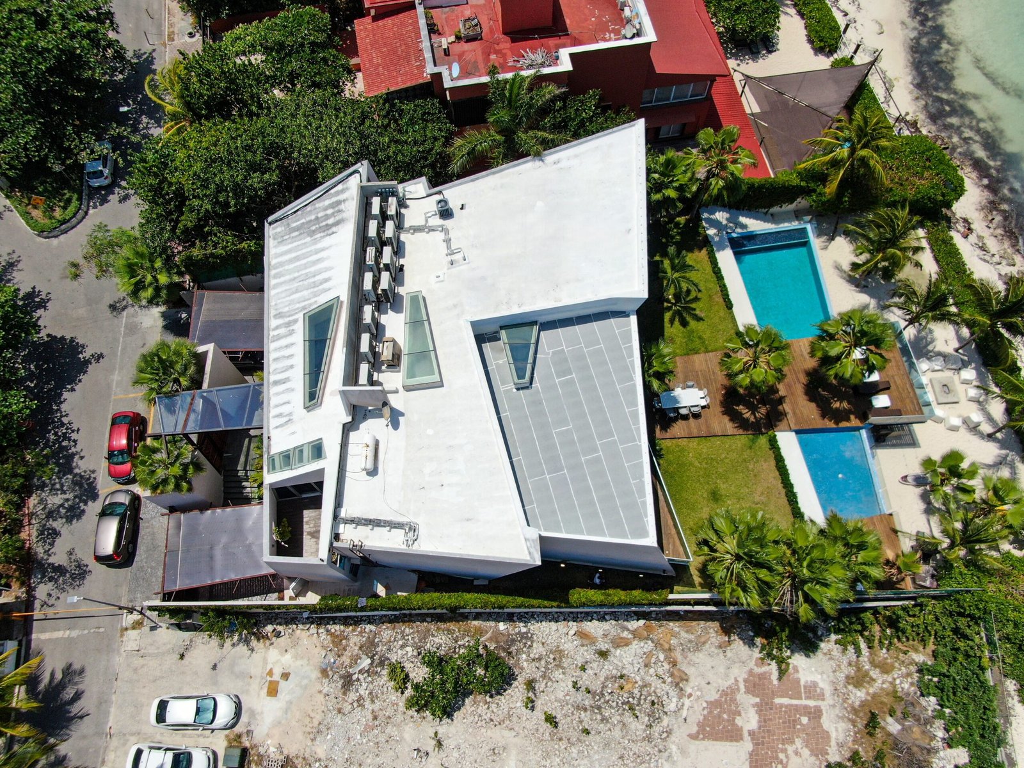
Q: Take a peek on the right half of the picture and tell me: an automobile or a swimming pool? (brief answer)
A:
swimming pool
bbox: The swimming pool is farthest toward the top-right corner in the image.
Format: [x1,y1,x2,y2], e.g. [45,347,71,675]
[728,223,835,341]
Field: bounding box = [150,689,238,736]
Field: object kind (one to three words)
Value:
car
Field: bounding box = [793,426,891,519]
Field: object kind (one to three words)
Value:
swimming pool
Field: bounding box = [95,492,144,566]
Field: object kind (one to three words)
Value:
car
